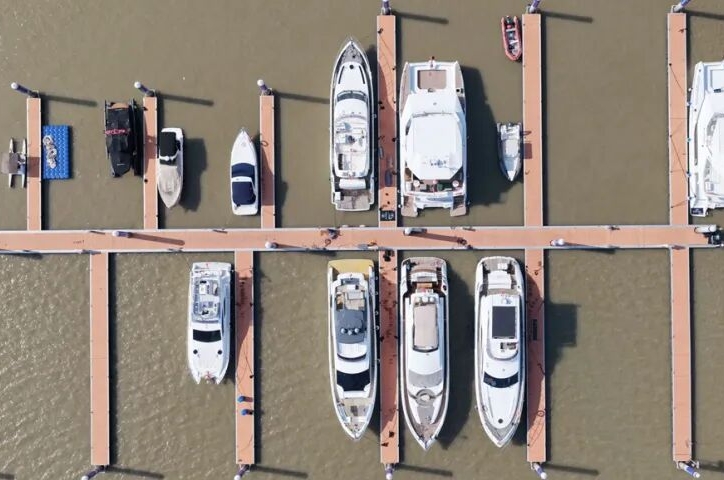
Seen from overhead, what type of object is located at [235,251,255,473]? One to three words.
pier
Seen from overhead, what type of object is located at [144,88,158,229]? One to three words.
pier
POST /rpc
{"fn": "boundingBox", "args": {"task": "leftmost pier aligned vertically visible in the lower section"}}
[90,252,110,474]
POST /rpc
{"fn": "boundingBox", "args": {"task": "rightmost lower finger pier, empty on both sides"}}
[670,247,691,469]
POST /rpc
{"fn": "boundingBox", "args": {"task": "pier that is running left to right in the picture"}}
[0,226,707,252]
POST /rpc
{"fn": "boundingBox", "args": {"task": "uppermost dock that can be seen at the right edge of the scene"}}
[666,4,689,226]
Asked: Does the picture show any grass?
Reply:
No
